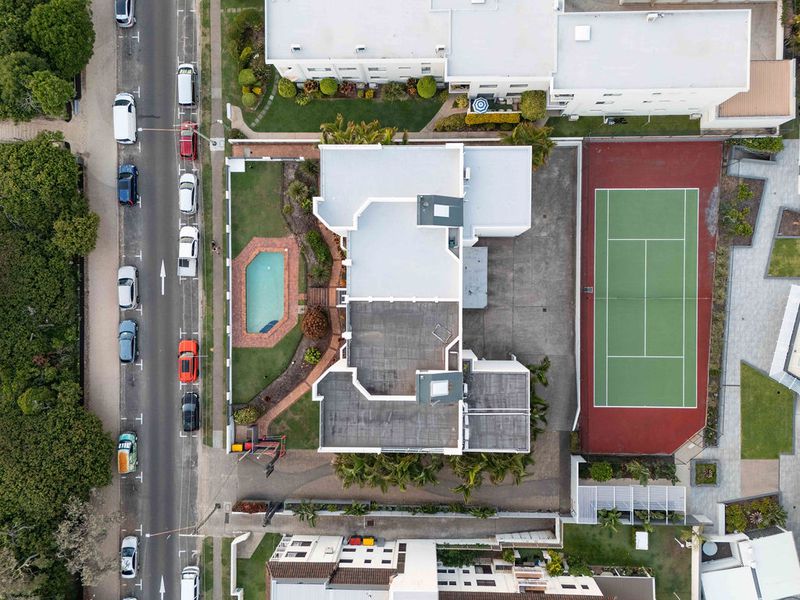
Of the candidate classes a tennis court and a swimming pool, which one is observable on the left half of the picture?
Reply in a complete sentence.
The feature located on the left half of the picture is a swimming pool.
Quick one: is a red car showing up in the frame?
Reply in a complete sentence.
Yes, you can see a red car in this photo.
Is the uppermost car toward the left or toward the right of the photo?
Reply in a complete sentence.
The uppermost car is on the left side of the image.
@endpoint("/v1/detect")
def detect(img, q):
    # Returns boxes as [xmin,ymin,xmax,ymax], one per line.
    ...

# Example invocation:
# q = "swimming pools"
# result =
[235,237,299,348]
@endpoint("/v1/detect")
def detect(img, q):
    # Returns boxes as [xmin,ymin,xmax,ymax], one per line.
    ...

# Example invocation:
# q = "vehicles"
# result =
[117,166,141,206]
[112,96,140,145]
[178,173,200,215]
[115,0,138,27]
[117,320,141,362]
[117,266,141,309]
[180,391,202,433]
[178,227,202,277]
[178,121,200,162]
[177,65,198,107]
[118,430,141,475]
[178,340,201,382]
[120,534,141,580]
[180,563,203,600]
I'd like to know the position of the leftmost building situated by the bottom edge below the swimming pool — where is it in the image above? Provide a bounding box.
[266,535,346,600]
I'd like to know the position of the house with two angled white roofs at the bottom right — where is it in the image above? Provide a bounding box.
[699,526,800,600]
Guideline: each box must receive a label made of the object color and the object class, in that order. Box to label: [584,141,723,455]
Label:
green tennis court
